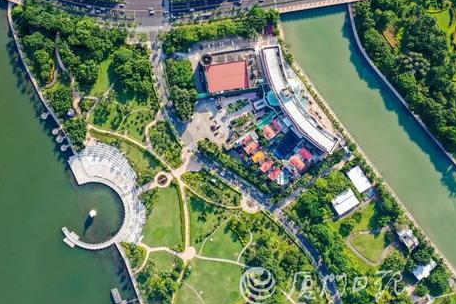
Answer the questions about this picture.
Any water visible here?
Yes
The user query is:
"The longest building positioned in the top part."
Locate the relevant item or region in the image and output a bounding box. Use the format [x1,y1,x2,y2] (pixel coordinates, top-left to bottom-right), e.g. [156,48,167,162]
[258,46,339,152]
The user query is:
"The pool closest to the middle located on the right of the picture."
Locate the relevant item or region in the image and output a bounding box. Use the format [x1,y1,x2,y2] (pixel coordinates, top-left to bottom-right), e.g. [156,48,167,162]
[274,133,299,157]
